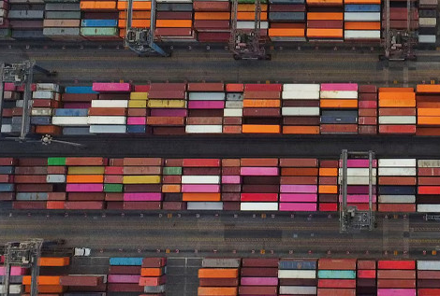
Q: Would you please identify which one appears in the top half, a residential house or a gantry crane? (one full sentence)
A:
Looking in the top half, you will find a gantry crane.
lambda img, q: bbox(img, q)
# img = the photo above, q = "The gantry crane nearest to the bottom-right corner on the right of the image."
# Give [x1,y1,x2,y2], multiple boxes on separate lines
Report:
[340,148,380,232]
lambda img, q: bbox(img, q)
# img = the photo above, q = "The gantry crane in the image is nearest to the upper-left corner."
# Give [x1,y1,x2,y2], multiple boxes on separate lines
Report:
[0,61,63,143]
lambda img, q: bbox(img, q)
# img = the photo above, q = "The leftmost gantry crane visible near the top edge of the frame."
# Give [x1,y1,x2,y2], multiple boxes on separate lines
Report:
[123,0,176,60]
